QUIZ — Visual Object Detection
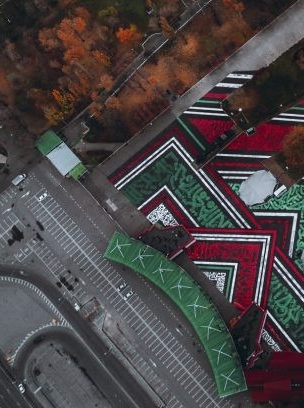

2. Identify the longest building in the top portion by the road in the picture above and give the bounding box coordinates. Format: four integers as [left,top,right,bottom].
[37,130,90,182]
